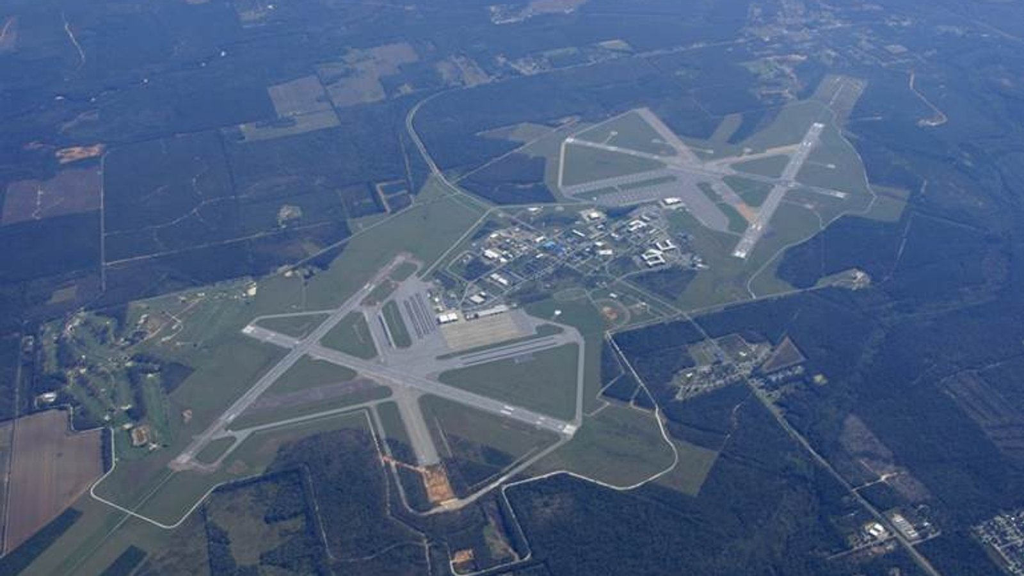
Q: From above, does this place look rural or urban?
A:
rural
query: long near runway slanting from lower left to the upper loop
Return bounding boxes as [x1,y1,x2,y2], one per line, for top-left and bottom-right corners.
[176,257,413,460]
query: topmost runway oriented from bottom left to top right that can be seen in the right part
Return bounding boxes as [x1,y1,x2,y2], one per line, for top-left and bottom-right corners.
[731,124,825,259]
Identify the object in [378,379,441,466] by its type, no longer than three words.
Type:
runway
